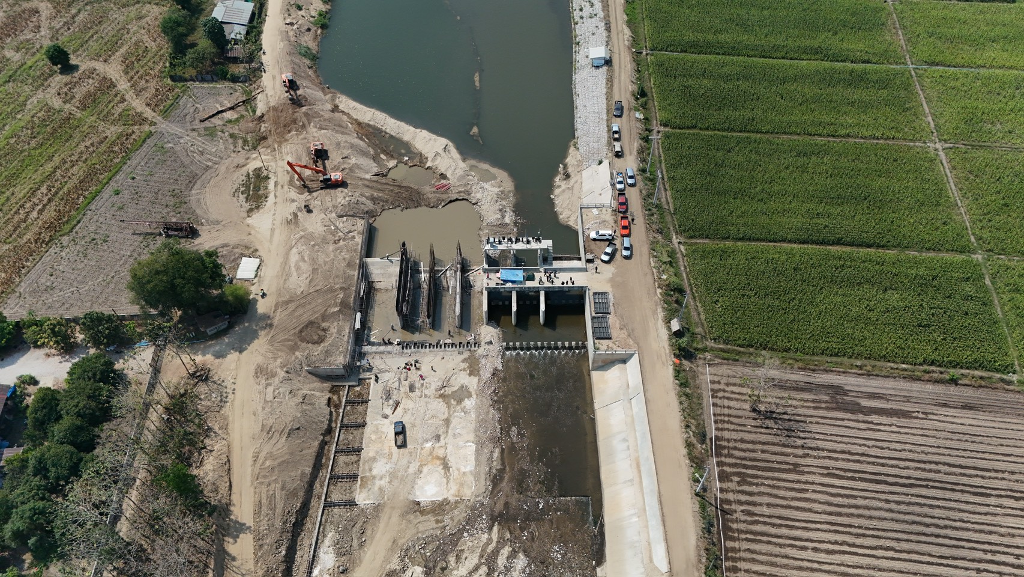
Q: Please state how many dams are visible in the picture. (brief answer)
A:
2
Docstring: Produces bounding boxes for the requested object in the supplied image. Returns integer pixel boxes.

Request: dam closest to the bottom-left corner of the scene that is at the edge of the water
[302,212,483,394]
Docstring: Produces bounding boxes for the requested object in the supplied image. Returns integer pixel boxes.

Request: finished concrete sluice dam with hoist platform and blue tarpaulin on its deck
[483,202,643,371]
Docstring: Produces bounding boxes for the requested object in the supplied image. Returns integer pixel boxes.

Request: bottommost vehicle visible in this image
[393,420,406,446]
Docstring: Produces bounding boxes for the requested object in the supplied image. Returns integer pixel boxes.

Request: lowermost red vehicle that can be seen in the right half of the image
[619,215,631,235]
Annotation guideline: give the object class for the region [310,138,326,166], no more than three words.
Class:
work vehicle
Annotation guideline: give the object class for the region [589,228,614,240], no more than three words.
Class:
vehicle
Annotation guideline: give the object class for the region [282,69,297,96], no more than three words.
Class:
work vehicle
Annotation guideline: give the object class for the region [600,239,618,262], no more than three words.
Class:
vehicle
